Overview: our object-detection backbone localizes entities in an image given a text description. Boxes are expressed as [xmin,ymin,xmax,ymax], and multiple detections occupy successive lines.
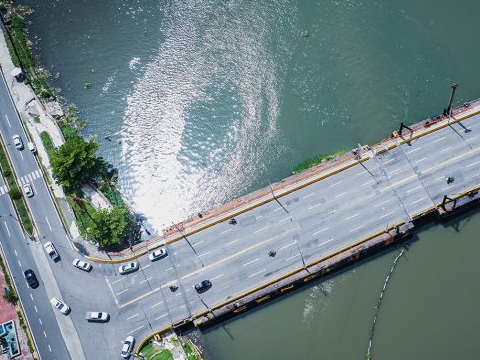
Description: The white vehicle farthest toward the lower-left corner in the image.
[50,297,72,316]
